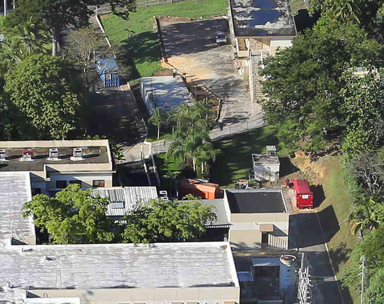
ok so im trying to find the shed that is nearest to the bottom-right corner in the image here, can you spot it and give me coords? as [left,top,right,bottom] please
[252,267,276,299]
